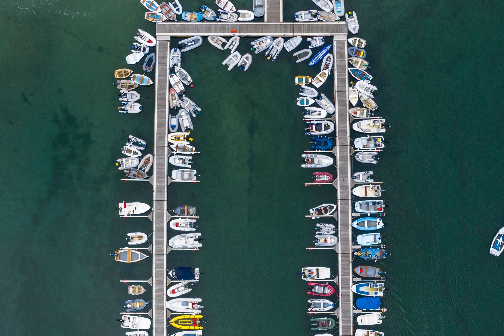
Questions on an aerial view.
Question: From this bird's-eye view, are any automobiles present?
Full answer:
No, I find no automobile anywhere in the image.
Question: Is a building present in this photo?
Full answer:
No, the photo shows no building.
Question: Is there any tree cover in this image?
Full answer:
No, the scene doesn't show any tree cover.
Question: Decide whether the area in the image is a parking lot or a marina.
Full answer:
The area seen from above is a marina.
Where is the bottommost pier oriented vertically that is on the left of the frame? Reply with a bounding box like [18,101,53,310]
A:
[152,254,167,336]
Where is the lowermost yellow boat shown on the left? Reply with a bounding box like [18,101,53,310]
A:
[168,314,203,330]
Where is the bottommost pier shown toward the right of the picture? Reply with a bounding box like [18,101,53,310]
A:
[337,253,353,335]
